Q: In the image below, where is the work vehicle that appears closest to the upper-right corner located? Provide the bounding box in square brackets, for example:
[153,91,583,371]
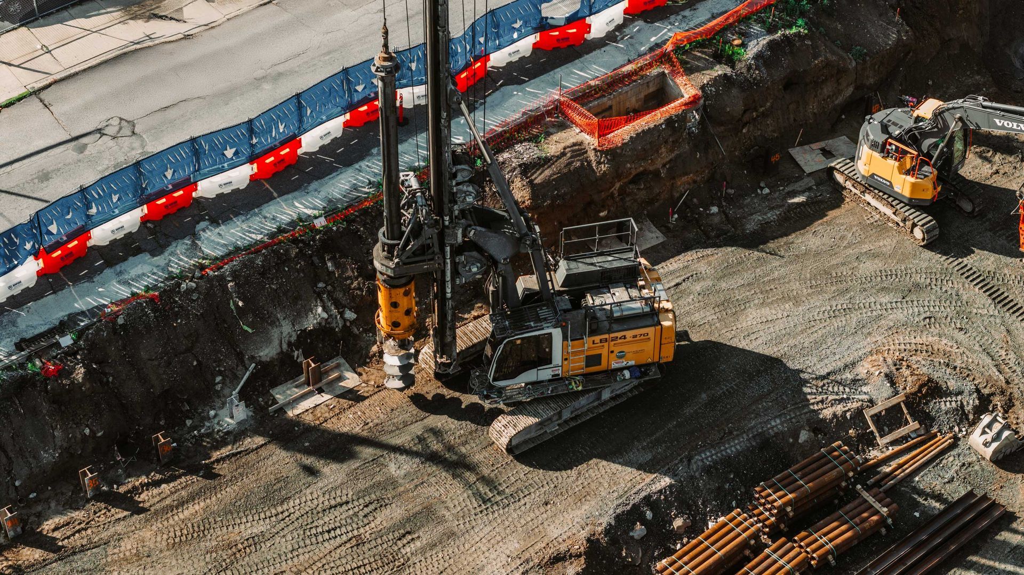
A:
[835,90,1024,248]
